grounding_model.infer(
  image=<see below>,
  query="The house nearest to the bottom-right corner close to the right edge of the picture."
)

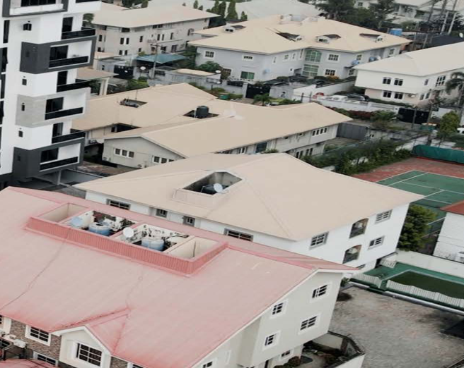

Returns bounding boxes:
[434,201,464,258]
